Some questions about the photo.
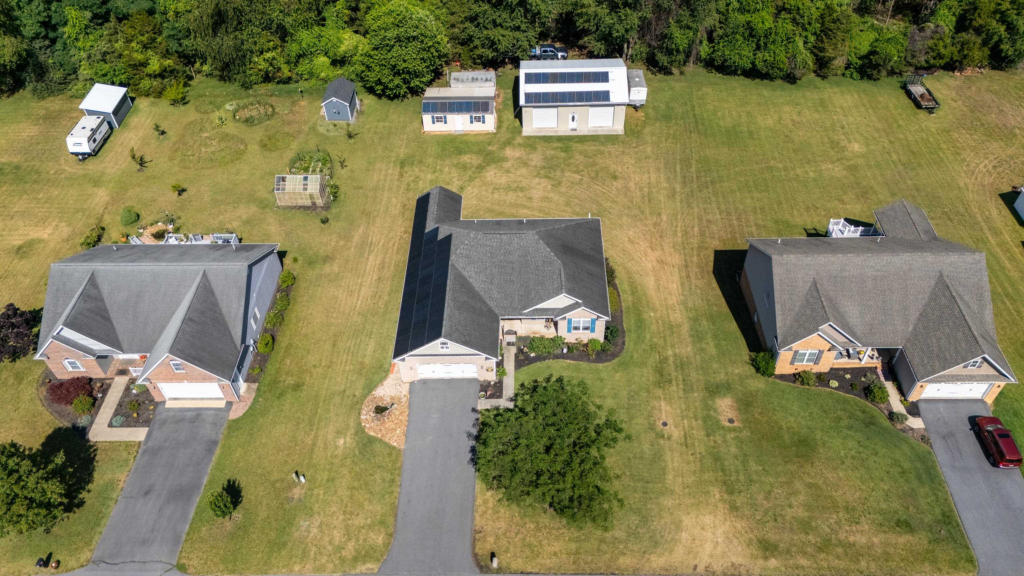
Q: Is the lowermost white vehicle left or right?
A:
left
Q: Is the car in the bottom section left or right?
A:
right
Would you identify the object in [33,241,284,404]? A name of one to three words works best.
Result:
house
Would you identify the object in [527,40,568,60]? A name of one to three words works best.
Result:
vehicle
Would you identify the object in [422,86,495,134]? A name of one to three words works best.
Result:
shed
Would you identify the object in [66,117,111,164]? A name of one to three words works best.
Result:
vehicle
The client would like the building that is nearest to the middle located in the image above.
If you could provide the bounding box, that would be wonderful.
[390,185,611,383]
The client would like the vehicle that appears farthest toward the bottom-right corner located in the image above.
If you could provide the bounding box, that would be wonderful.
[973,414,1024,471]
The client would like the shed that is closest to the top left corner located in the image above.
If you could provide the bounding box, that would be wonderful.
[79,83,132,128]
